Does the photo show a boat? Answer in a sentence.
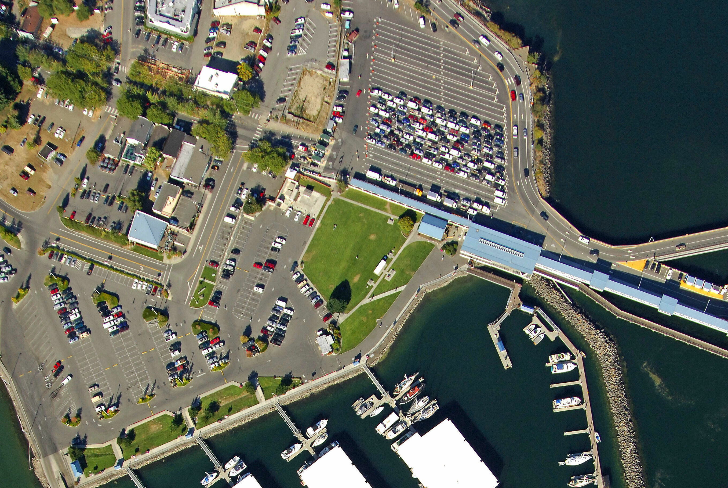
Yes, there is a boat in the image.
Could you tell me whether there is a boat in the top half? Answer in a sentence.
No, no boat can be made out in the top half.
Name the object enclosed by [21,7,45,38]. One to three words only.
house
